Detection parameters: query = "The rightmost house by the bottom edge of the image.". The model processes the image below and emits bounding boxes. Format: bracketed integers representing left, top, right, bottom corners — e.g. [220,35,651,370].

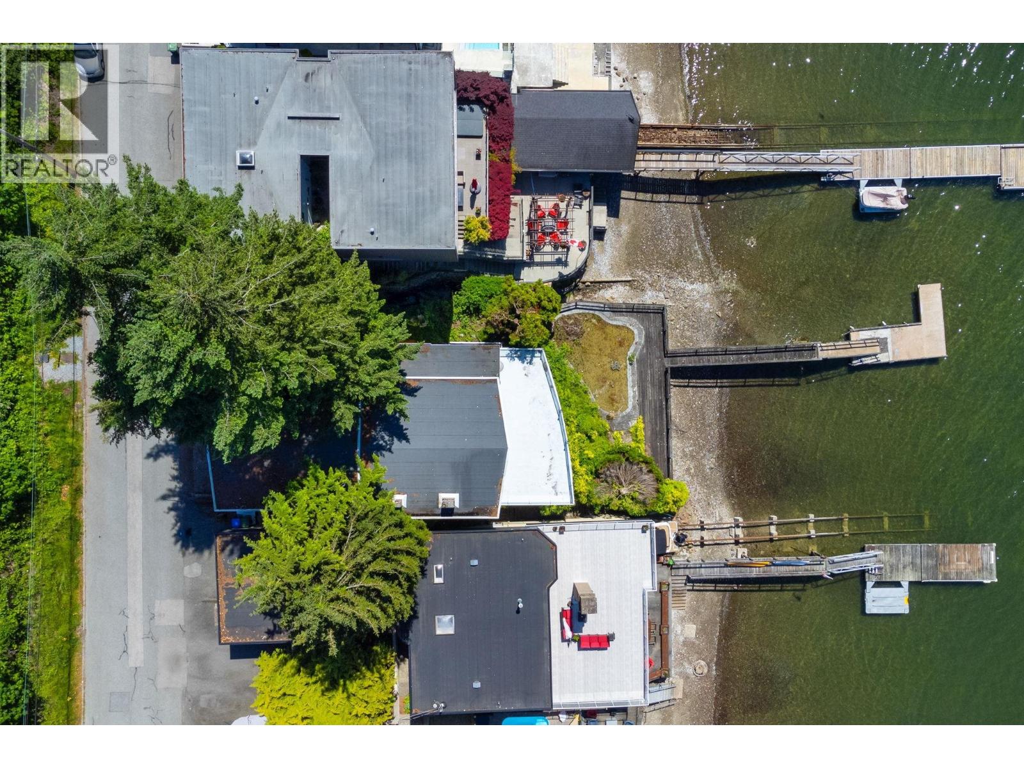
[358,520,660,746]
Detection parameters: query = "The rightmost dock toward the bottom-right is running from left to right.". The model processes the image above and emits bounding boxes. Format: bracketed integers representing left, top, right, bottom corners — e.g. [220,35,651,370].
[860,543,997,583]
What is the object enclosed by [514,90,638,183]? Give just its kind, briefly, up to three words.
building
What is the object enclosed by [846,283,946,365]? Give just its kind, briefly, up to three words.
pier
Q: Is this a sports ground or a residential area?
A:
residential area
